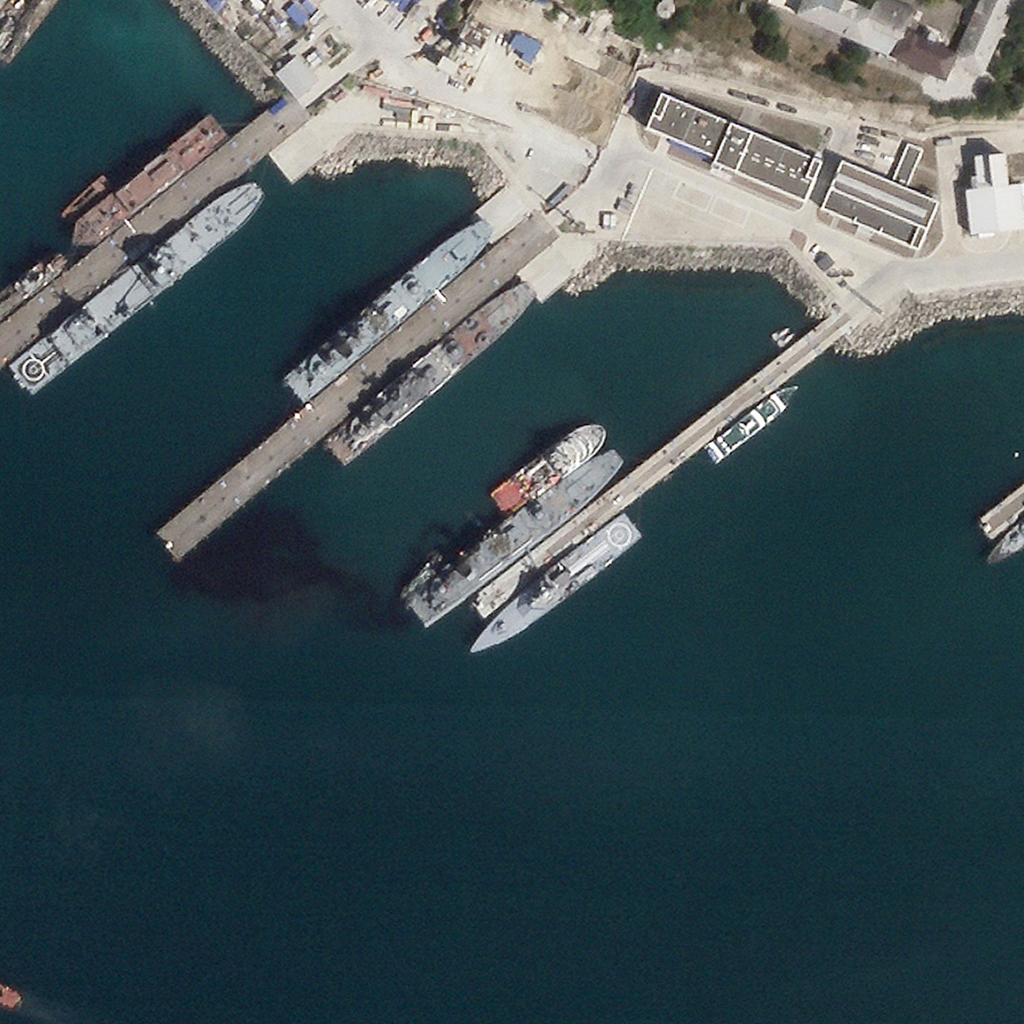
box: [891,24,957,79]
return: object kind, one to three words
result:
house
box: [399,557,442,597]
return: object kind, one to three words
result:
ship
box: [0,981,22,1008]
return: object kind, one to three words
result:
boat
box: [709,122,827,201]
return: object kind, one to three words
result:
building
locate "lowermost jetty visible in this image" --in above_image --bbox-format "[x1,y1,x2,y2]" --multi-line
[475,556,540,618]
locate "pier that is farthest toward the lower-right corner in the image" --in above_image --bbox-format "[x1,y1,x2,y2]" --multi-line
[980,484,1024,540]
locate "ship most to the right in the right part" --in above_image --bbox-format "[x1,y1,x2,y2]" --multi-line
[987,521,1024,563]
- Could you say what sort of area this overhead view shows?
port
